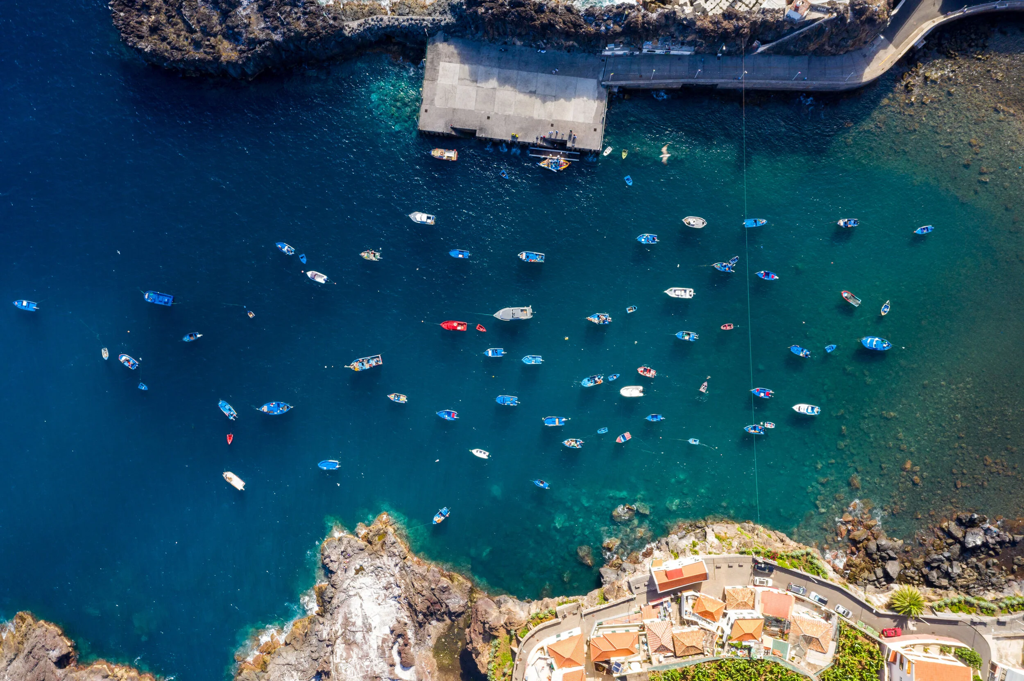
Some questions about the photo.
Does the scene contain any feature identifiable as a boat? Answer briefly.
Yes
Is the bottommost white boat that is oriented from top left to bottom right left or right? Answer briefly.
left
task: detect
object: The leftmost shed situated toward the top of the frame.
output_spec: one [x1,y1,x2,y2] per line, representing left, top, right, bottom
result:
[601,45,640,59]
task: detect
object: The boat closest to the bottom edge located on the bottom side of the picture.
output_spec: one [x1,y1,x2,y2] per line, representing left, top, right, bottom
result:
[433,508,452,525]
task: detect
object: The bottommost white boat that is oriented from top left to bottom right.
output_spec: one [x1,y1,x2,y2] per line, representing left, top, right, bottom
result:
[222,472,247,492]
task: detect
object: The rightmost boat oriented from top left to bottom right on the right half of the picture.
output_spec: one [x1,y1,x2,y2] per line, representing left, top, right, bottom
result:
[842,290,863,307]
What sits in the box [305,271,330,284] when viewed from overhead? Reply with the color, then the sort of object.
white boat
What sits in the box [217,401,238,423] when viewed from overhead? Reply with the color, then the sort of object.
blue boat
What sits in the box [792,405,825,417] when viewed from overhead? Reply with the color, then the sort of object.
white boat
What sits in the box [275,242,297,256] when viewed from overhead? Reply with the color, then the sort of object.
blue boat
